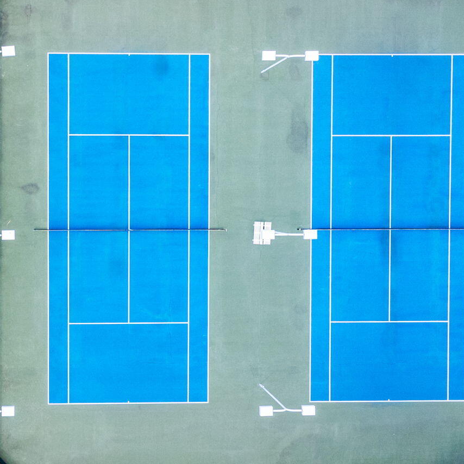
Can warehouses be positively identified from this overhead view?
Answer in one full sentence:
No, I find no warehouse anywhere in the image.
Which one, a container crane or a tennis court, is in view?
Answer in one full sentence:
Of the two, only a tennis court appears.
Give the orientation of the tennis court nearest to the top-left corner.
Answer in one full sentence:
The tennis court nearest to the top-left corner runs up and down in the image.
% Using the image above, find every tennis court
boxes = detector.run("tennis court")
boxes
[48,53,210,403]
[310,54,464,402]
